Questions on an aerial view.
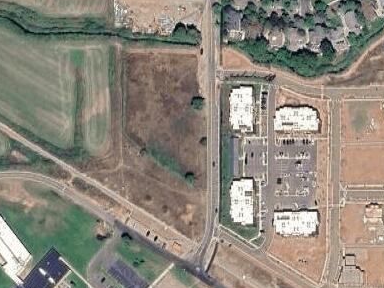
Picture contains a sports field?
No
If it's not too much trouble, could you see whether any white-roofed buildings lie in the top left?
No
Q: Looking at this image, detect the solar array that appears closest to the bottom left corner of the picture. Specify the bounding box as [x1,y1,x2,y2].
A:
[23,250,66,288]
